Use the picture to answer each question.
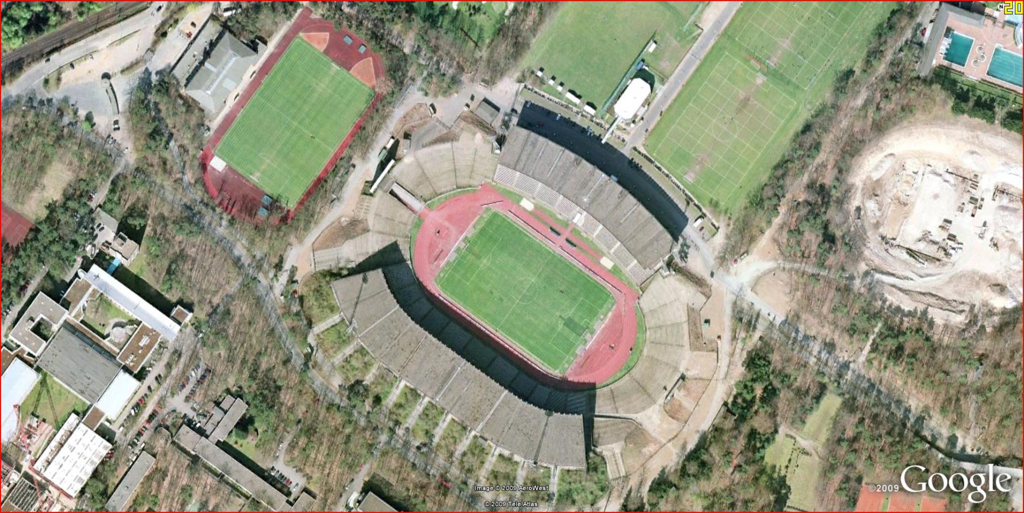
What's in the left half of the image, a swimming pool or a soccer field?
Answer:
soccer field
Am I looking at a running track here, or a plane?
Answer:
running track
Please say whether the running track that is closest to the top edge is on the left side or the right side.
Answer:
left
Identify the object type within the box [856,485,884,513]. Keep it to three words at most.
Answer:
tennis court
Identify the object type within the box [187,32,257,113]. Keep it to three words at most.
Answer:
building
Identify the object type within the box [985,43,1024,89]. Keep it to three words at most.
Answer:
swimming pool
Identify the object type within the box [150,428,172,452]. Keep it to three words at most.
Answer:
house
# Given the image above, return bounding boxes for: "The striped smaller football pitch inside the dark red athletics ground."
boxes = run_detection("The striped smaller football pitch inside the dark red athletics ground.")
[215,37,375,207]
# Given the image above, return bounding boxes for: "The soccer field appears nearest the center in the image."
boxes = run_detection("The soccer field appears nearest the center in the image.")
[432,203,618,377]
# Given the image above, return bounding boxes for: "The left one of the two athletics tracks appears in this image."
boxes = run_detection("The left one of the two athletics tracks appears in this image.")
[200,5,384,227]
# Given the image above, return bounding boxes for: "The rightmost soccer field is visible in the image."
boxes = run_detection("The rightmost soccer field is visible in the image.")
[737,0,866,88]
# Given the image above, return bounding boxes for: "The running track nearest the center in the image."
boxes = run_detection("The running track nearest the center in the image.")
[405,183,645,392]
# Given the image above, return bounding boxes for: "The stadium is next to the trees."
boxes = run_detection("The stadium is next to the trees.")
[302,125,704,509]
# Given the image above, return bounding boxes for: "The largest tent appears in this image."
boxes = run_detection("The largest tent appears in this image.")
[613,78,652,121]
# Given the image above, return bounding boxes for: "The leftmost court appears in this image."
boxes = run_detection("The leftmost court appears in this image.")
[0,206,34,252]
